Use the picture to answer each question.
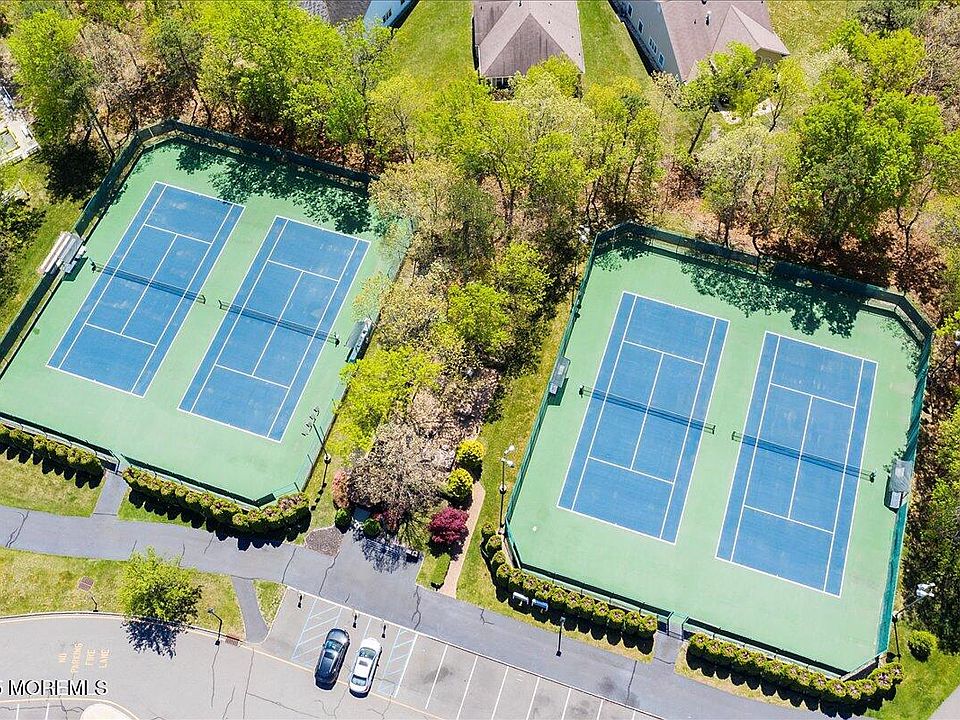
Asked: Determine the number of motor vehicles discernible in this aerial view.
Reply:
two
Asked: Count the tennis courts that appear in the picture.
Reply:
4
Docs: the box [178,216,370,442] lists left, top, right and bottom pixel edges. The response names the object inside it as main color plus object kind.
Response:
blue tennis court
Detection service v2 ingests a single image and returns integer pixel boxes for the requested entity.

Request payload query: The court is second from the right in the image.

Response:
[558,291,730,544]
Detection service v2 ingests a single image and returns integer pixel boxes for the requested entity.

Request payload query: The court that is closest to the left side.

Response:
[46,181,244,398]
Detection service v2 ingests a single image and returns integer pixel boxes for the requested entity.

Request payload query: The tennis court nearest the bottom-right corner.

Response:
[715,331,878,598]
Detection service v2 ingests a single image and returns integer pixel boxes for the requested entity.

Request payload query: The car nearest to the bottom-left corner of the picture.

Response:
[312,628,350,691]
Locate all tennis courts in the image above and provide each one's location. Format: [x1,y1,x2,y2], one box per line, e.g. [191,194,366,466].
[715,331,878,598]
[558,291,730,544]
[46,181,244,398]
[178,216,370,442]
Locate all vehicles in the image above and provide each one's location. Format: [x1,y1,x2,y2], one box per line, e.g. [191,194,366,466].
[348,638,382,698]
[312,628,350,691]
